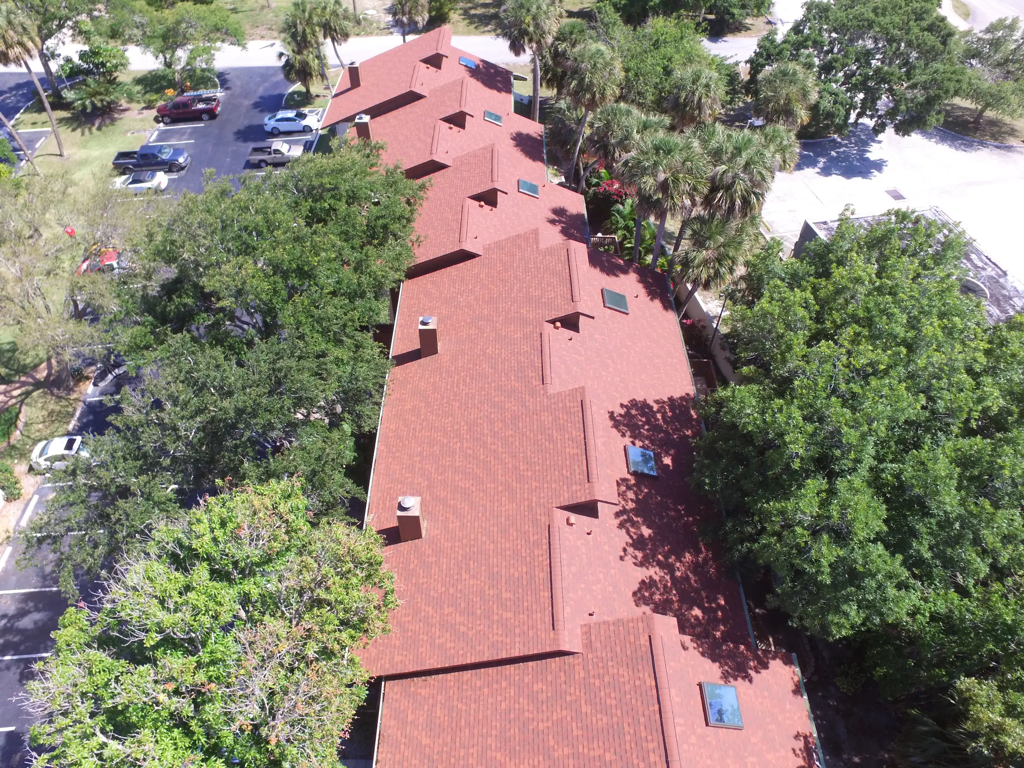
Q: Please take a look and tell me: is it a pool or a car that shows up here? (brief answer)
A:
car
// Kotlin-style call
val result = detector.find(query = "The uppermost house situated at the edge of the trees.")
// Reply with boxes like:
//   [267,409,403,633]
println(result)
[320,27,522,146]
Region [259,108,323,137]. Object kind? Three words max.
car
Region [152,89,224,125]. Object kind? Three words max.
truck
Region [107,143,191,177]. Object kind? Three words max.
truck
